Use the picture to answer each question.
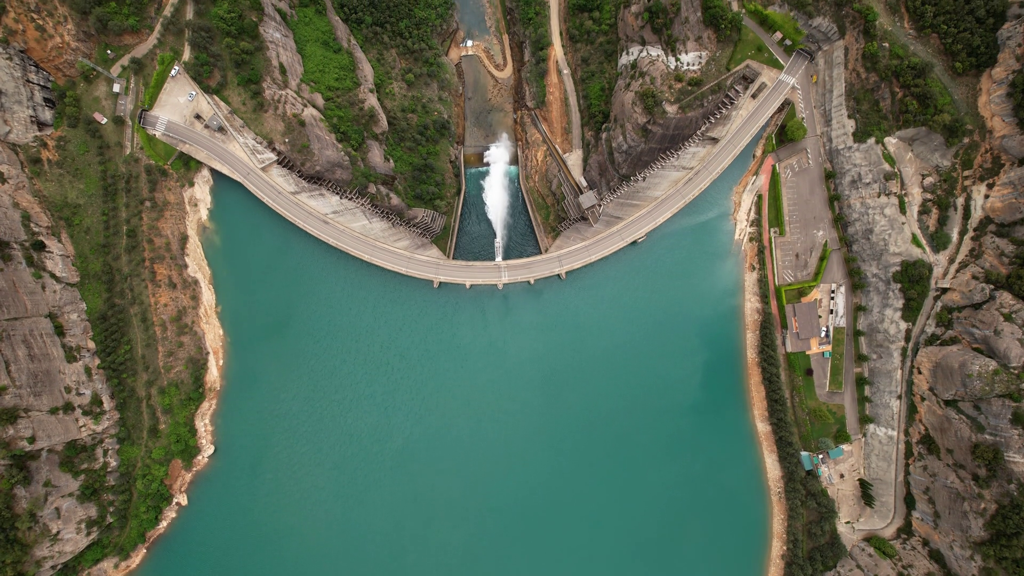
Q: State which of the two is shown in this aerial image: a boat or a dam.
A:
dam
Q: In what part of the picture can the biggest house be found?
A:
right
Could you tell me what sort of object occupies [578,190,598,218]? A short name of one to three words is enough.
building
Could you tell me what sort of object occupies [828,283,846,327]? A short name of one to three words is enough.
building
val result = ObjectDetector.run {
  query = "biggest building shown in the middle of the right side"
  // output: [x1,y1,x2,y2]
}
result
[782,299,821,352]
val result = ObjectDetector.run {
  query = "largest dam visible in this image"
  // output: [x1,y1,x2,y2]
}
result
[138,45,813,290]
